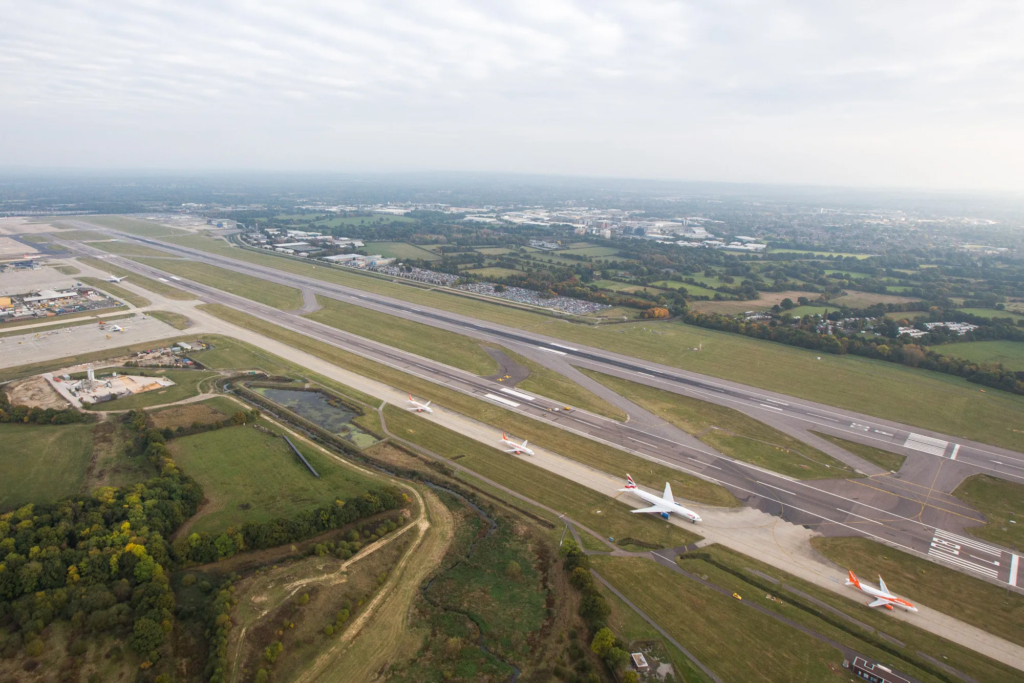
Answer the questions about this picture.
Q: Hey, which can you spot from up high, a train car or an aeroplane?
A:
aeroplane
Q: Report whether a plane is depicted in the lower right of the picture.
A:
Yes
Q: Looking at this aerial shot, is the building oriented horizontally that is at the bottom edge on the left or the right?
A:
right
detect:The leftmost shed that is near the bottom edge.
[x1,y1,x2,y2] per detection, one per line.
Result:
[626,648,649,671]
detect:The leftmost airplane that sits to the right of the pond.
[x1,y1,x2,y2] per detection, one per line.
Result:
[402,391,431,409]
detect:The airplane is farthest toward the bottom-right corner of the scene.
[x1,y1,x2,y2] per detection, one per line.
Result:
[844,569,918,611]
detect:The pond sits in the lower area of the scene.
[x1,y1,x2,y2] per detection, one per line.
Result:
[251,387,377,447]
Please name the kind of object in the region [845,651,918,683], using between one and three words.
building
